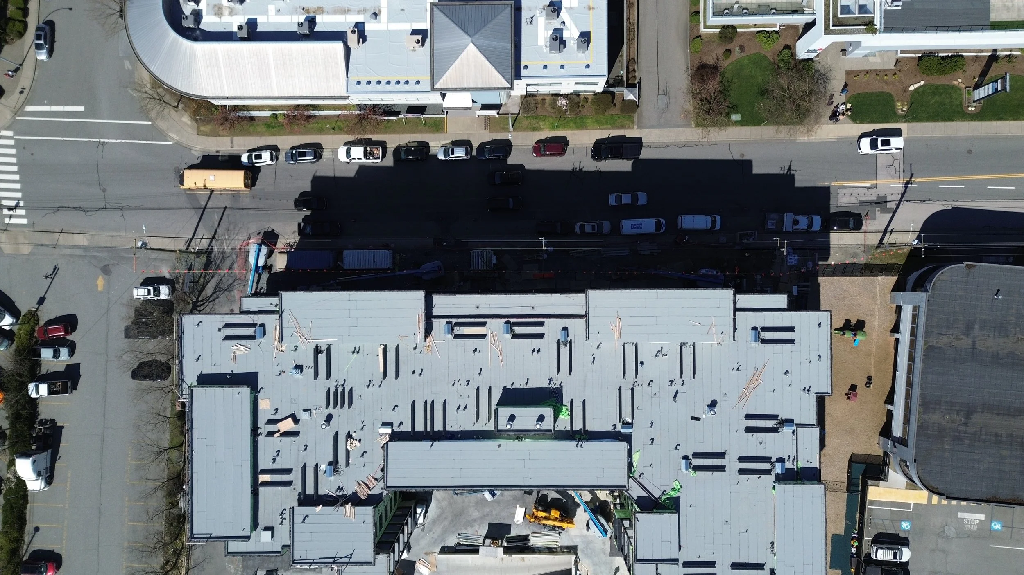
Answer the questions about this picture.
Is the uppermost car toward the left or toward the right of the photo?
left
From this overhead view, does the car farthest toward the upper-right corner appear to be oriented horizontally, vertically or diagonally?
horizontally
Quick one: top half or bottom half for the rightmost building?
bottom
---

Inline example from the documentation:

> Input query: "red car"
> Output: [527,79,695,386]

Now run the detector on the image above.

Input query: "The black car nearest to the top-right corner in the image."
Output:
[826,212,863,230]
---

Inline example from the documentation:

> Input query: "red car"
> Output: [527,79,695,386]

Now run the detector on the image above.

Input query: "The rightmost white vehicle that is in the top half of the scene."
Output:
[856,135,904,155]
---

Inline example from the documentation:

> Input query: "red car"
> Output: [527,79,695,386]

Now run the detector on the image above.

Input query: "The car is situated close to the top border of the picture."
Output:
[33,24,54,62]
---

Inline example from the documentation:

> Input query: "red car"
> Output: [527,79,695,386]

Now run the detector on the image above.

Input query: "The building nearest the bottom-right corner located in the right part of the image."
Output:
[878,260,1024,508]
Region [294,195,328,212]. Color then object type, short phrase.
black car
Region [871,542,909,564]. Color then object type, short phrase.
white car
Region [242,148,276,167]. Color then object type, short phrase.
white car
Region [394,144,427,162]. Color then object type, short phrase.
black car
